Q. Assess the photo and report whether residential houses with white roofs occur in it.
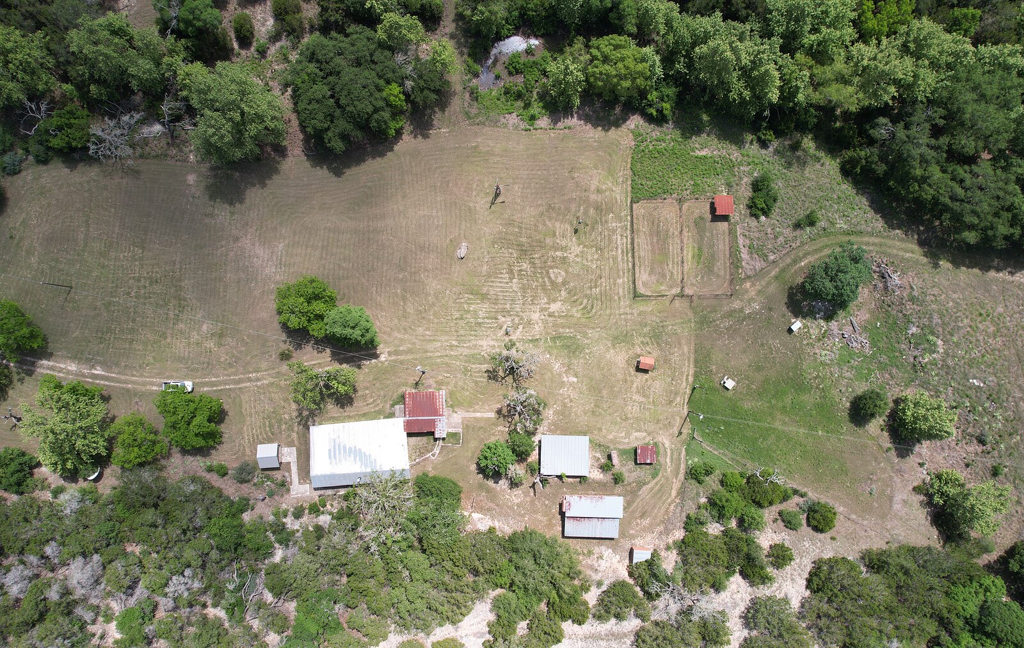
Yes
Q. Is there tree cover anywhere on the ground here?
Yes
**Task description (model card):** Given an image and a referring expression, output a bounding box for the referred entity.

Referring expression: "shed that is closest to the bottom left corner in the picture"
[257,443,283,469]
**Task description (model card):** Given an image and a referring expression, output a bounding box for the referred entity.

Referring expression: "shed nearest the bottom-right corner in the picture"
[630,544,651,566]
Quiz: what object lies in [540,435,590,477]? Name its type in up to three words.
shed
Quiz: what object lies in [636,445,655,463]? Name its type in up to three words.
shed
